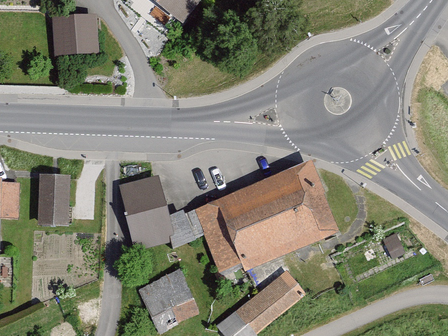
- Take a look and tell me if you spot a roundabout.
Yes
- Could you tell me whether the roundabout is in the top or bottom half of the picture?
top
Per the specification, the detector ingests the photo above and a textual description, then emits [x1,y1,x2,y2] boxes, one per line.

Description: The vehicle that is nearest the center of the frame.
[210,166,224,190]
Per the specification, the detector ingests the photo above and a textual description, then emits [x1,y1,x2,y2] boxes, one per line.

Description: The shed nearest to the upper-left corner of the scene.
[50,14,99,55]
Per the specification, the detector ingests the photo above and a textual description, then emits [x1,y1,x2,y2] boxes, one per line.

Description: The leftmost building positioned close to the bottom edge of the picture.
[139,270,198,334]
